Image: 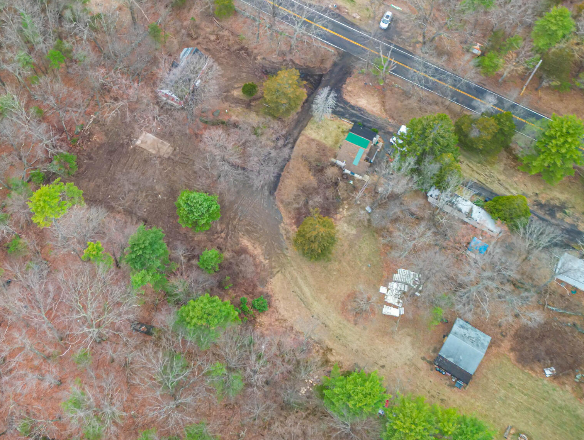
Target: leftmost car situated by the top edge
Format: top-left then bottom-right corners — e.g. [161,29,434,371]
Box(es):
[379,12,392,29]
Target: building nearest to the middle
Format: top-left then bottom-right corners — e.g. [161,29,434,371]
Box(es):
[334,122,379,174]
